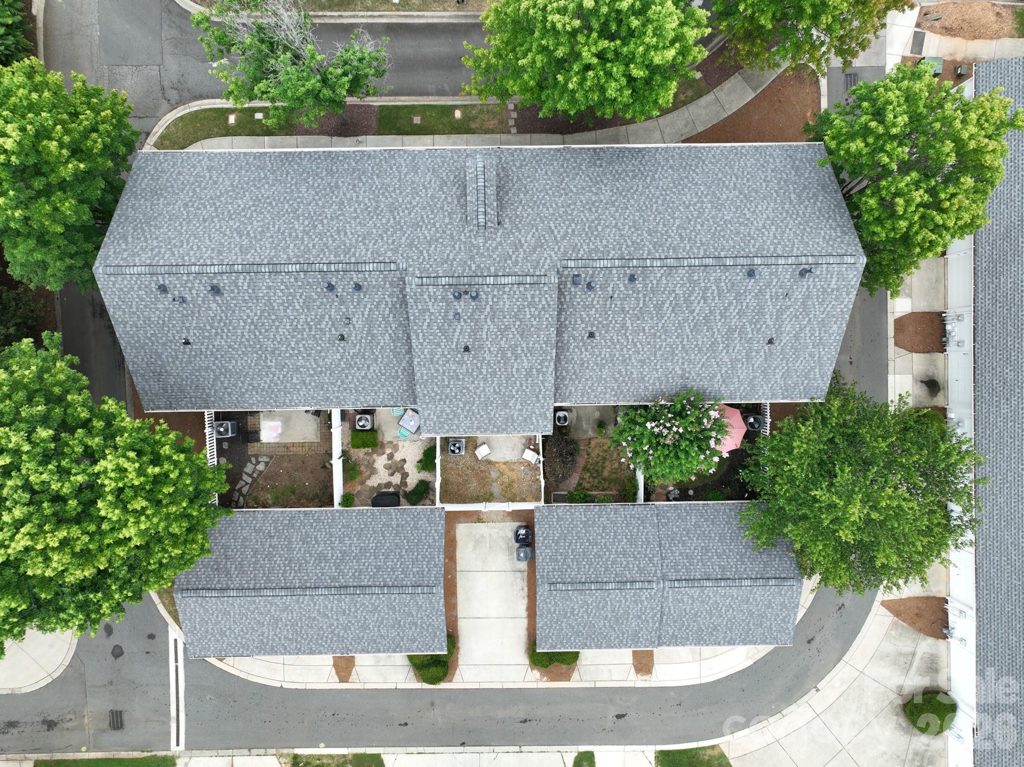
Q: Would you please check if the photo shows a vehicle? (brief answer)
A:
No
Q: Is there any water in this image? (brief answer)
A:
No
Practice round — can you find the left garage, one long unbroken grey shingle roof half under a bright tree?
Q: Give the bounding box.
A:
[174,504,448,660]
